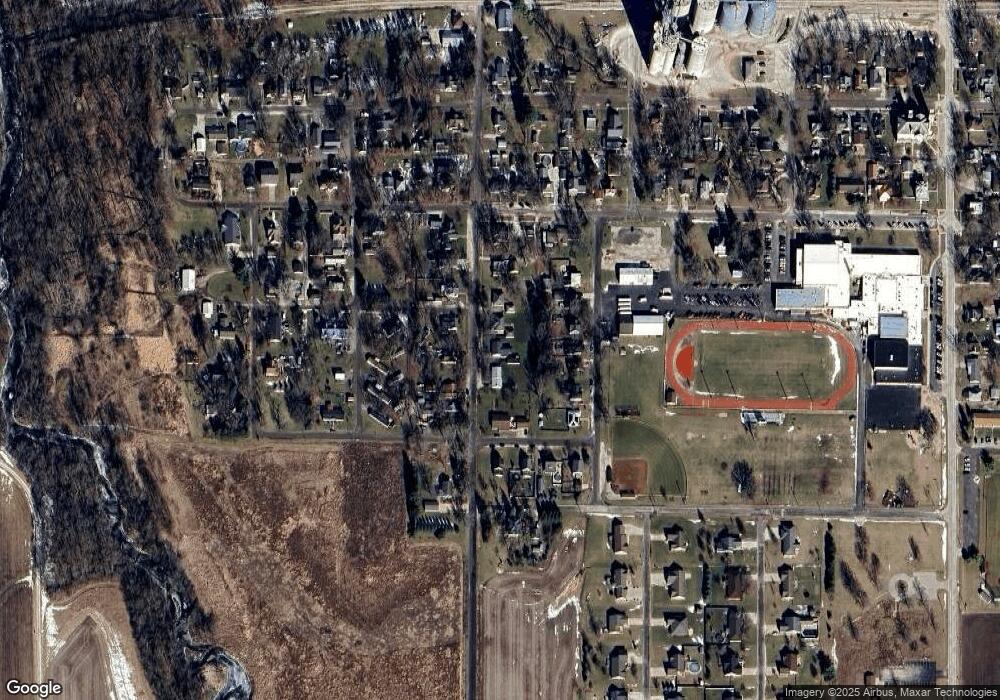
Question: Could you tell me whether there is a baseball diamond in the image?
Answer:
Yes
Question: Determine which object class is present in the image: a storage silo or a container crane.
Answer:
storage silo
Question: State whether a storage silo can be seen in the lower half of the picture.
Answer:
No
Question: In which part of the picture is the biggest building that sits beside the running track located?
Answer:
right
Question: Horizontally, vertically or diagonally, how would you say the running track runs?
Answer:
horizontally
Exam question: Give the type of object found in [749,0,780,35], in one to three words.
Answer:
silo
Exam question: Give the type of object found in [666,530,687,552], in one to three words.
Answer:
house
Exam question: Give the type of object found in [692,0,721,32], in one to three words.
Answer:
silo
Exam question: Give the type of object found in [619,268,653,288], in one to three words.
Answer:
building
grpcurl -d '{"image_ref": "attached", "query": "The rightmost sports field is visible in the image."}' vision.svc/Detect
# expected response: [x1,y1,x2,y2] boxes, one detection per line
[703,331,849,400]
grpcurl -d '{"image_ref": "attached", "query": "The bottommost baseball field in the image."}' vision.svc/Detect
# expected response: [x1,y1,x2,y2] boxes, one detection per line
[611,422,686,496]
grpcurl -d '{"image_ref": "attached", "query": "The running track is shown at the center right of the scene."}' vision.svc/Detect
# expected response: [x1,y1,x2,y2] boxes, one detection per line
[666,320,858,410]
